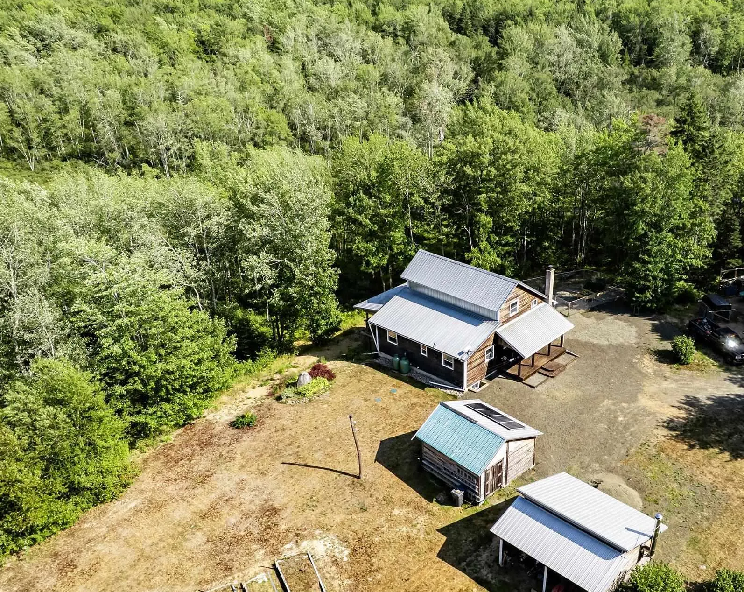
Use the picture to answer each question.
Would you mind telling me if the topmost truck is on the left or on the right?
right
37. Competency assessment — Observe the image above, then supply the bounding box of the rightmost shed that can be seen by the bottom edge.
[491,473,667,592]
